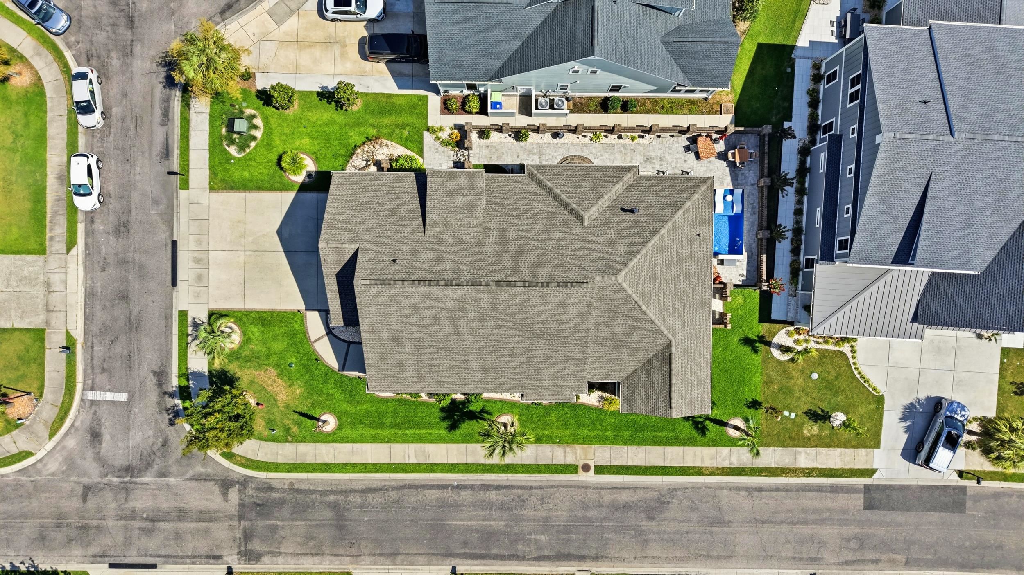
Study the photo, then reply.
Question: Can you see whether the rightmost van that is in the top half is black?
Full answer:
Yes, the rightmost van that is in the top half is indeed black.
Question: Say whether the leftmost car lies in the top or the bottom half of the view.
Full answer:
It is in the top half that the leftmost car appears.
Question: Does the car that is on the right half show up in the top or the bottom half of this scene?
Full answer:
It is in the bottom half that the car that is on the right half appears.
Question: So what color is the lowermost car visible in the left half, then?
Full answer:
The color of the lowermost car visible in the left half is white.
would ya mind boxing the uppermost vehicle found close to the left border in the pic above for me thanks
[7,0,69,35]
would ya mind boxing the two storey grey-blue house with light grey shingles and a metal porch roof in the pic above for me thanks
[793,0,1024,343]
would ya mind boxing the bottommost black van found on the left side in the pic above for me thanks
[365,30,429,65]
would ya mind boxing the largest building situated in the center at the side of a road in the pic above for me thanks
[319,162,715,418]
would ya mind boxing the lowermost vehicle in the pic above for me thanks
[916,400,968,471]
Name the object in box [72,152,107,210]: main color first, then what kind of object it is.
white car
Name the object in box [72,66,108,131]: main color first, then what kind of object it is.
white car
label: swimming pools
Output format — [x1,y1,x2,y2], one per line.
[712,184,747,259]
